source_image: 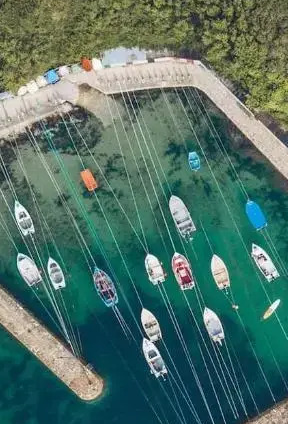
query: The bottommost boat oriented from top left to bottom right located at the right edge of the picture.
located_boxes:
[252,243,280,285]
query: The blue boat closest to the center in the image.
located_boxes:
[188,151,200,172]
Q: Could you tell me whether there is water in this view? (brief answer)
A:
Yes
